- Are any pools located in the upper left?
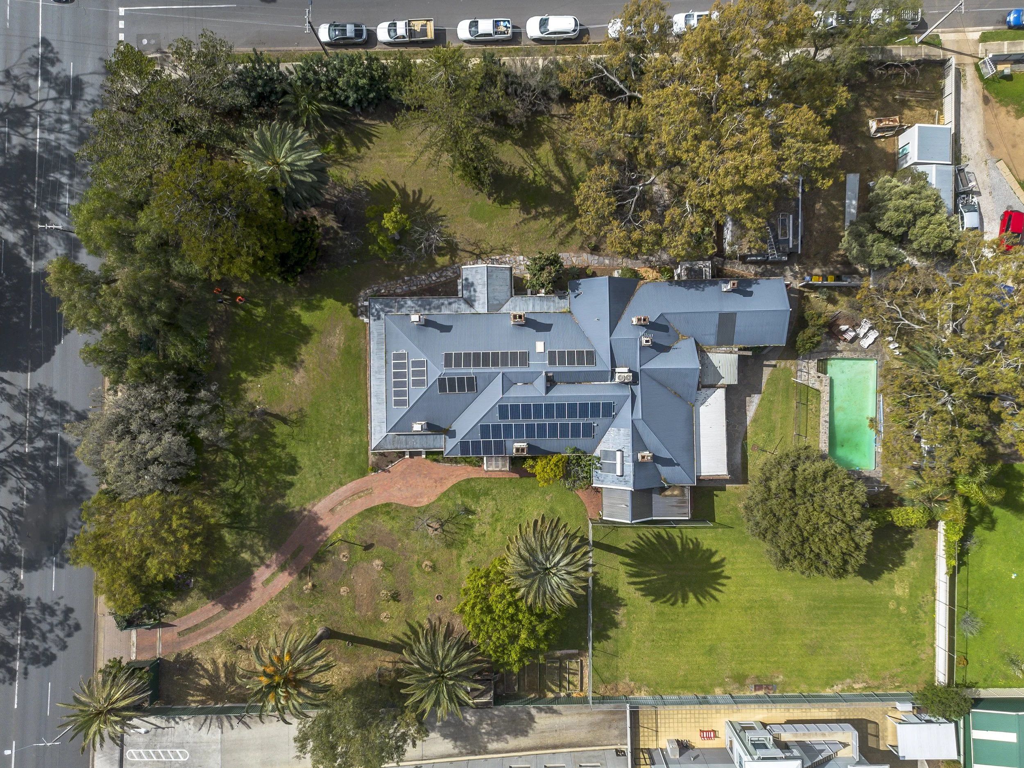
No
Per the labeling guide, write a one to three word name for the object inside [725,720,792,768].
house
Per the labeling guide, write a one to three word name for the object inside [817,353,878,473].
swimming pool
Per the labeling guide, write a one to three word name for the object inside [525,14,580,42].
car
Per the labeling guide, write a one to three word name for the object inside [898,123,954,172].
shed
